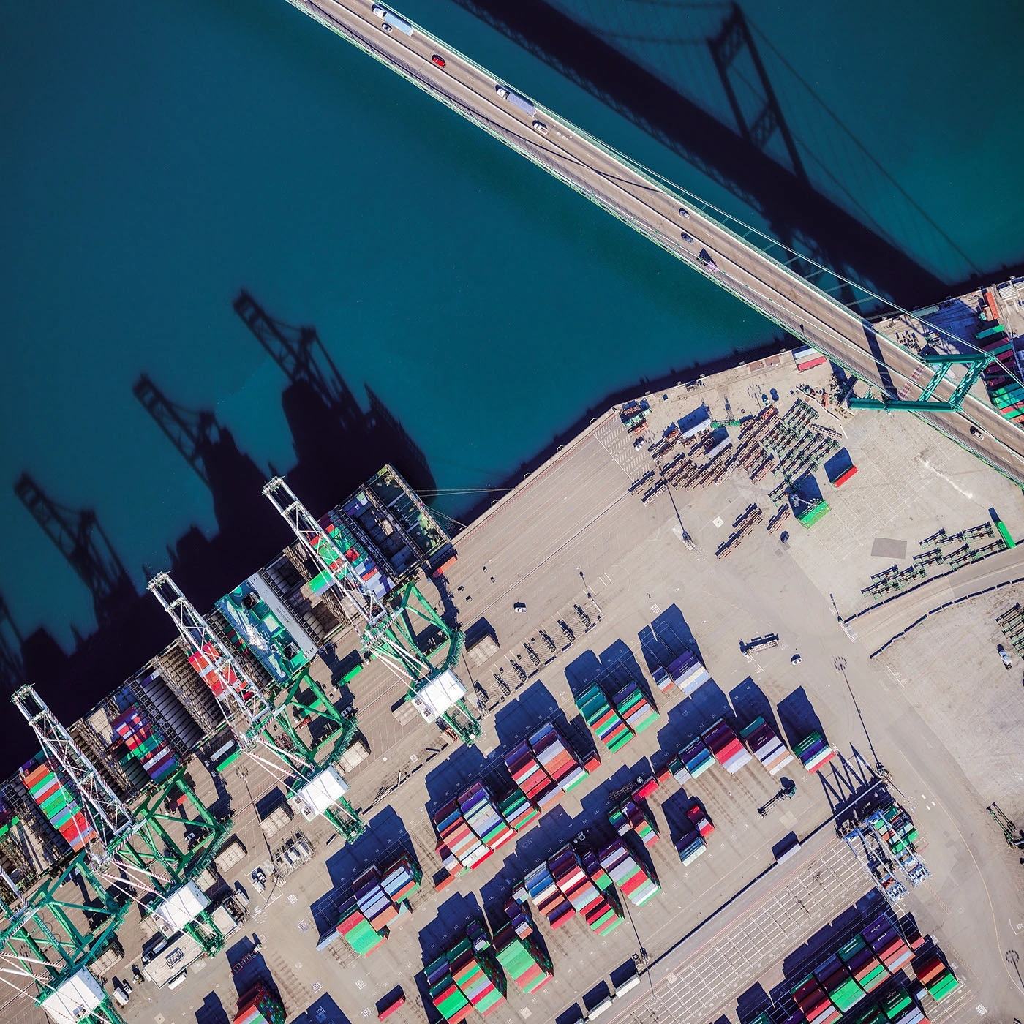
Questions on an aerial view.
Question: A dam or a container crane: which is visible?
container crane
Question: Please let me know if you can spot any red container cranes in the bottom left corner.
No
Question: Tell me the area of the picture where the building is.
bottom left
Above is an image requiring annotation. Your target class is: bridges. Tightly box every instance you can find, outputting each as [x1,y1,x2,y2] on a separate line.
[275,0,1024,495]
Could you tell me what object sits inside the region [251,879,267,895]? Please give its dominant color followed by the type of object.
white vehicle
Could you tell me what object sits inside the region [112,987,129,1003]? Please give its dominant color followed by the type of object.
white vehicle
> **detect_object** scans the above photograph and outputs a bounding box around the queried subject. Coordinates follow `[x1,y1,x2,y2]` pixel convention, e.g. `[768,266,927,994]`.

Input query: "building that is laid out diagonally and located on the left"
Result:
[145,904,238,986]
